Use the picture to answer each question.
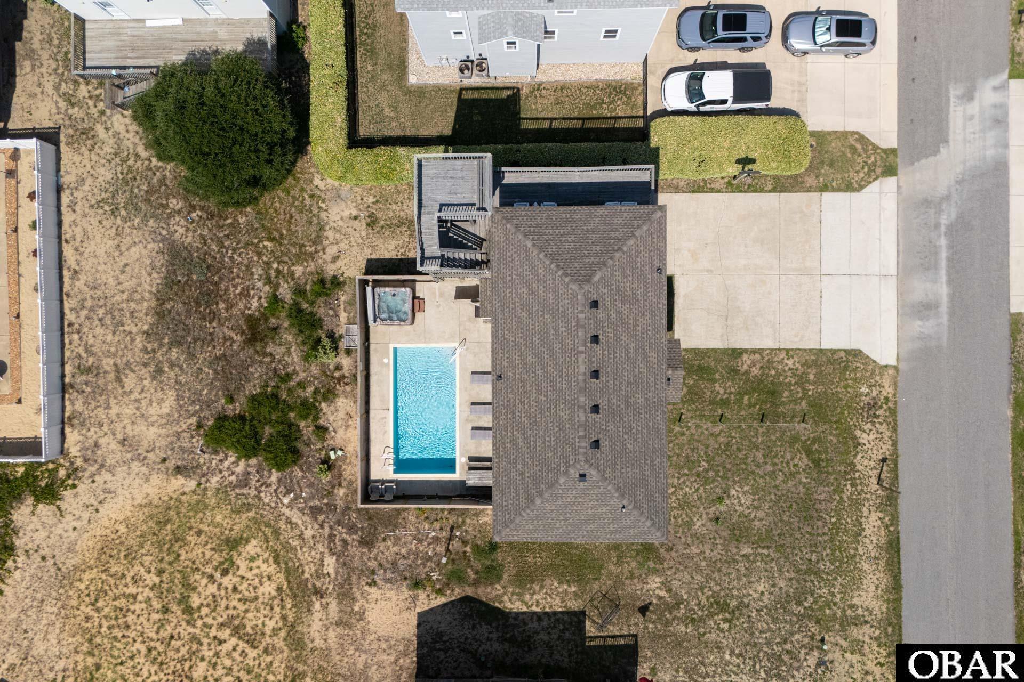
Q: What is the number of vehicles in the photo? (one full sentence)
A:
Looking from above, you can make out 3 vehicles.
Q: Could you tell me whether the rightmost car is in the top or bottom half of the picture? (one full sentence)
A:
The rightmost car is in the top half of the image.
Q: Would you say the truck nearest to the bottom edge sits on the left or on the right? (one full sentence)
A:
The truck nearest to the bottom edge is on the right side of the image.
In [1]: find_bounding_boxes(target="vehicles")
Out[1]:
[781,10,875,59]
[659,65,773,114]
[675,5,768,54]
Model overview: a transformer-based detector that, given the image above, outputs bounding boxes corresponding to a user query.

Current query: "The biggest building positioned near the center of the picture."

[479,203,685,544]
